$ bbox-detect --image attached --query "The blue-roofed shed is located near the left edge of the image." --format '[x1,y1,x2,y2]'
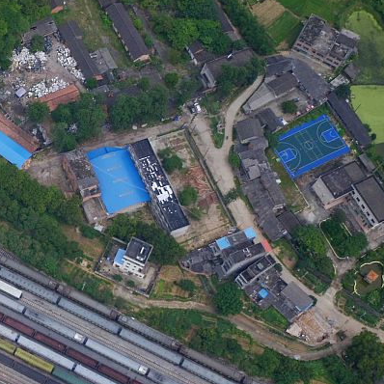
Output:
[0,132,32,172]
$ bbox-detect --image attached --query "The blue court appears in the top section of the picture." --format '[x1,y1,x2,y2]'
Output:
[274,115,350,175]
